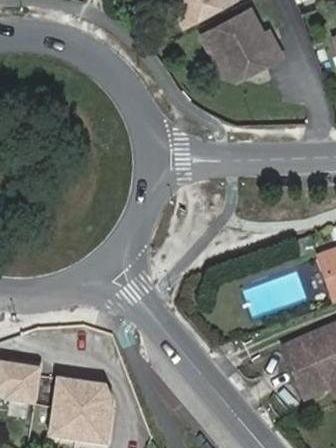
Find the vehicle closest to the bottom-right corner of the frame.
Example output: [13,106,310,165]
[272,373,292,386]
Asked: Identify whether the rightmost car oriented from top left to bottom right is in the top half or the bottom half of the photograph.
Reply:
bottom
